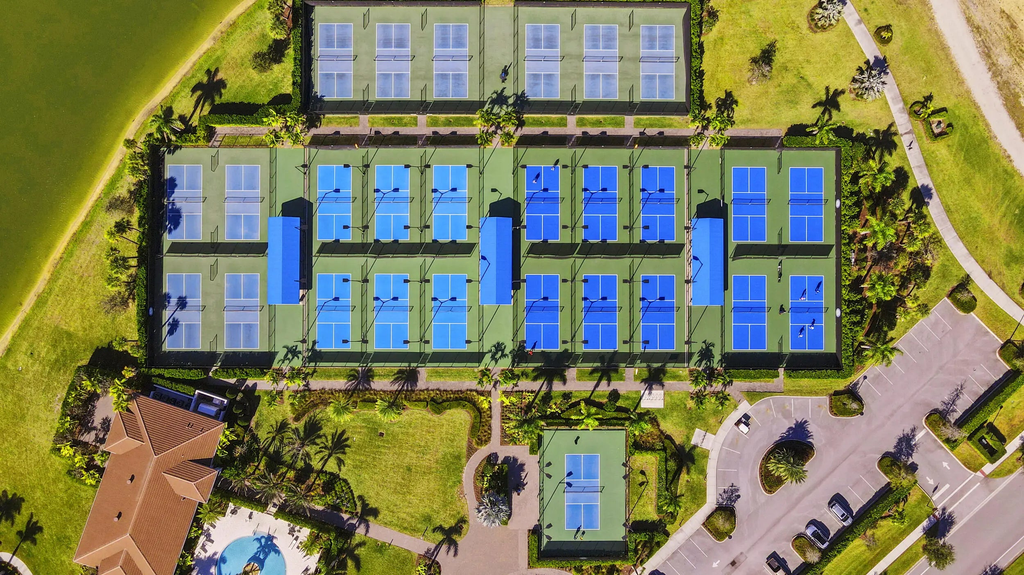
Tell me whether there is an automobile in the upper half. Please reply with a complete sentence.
No, I can find no automobile in the upper half.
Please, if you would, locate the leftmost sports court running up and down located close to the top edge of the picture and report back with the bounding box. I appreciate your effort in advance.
[318,23,353,98]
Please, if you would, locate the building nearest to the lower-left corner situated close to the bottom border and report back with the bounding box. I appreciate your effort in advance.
[73,392,227,575]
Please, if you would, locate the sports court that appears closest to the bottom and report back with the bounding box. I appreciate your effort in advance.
[565,454,600,530]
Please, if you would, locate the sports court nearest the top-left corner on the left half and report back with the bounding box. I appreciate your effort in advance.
[167,165,203,239]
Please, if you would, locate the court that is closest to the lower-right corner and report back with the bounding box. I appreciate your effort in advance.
[790,275,824,350]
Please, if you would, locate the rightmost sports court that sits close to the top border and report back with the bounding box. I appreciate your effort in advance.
[641,25,675,99]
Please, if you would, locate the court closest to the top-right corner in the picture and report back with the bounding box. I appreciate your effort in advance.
[790,167,823,242]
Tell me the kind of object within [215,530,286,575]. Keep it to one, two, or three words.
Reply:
swimming pool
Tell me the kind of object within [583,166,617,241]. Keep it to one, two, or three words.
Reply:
sports court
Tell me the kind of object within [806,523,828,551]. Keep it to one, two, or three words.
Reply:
car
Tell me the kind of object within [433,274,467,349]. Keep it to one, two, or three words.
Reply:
sports court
